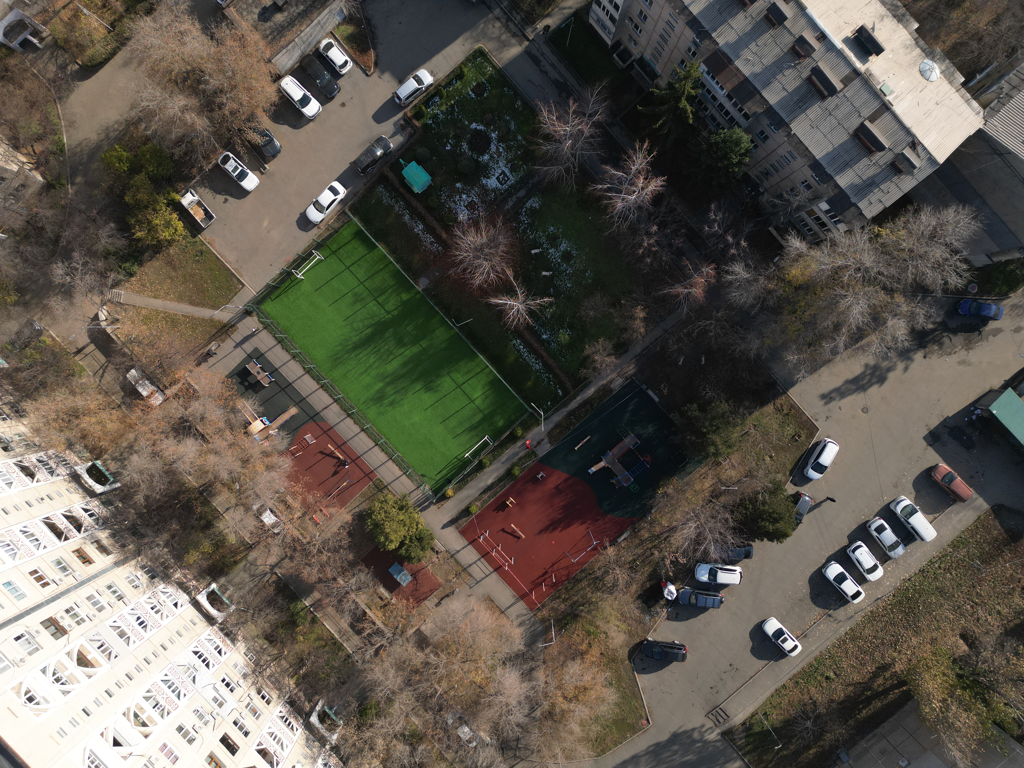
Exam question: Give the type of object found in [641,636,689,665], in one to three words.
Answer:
car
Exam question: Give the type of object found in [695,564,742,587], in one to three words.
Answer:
car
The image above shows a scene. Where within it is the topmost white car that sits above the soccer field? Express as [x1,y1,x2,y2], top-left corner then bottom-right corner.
[317,35,355,78]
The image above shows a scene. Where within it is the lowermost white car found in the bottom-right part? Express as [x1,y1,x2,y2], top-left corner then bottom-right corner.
[762,616,802,658]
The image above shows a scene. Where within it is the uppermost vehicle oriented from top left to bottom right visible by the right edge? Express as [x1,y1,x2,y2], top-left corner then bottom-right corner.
[930,462,976,505]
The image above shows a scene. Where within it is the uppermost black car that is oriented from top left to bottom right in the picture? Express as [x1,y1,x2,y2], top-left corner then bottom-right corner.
[298,50,342,100]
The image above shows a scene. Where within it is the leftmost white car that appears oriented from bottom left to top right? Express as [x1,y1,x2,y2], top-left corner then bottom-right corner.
[305,179,348,225]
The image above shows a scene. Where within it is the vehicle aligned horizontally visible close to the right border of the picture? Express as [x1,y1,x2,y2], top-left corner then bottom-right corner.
[955,298,1004,321]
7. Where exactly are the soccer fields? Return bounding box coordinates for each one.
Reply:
[260,221,531,496]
